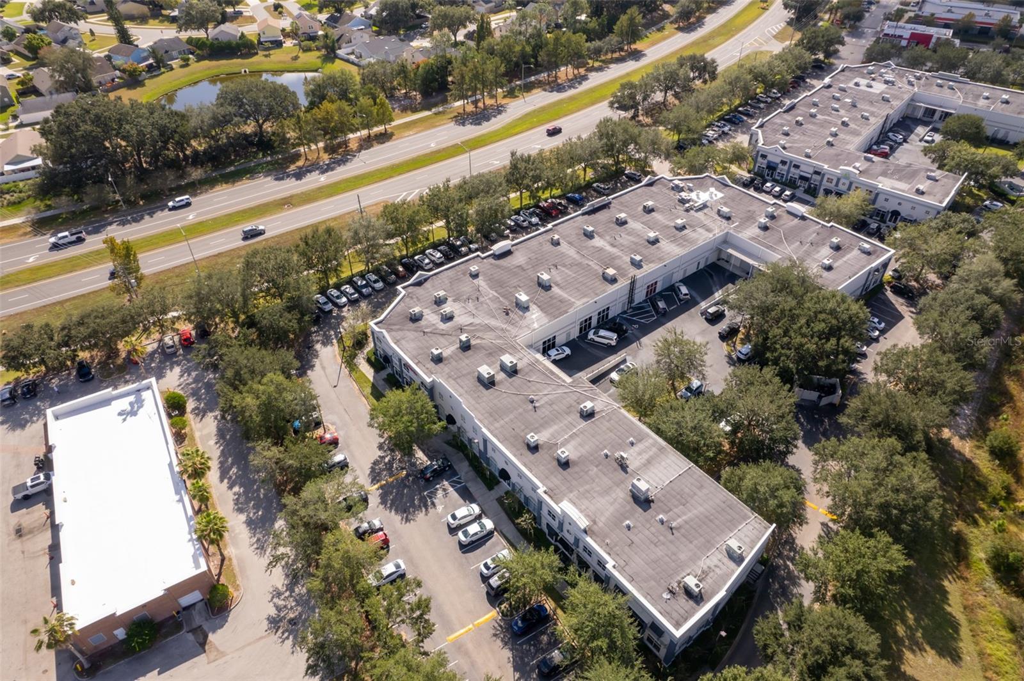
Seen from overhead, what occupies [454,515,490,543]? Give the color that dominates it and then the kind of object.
white car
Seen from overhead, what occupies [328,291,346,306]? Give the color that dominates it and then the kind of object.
gray car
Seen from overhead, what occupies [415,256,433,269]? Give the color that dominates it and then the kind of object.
gray vehicle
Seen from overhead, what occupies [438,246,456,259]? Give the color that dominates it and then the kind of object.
black vehicle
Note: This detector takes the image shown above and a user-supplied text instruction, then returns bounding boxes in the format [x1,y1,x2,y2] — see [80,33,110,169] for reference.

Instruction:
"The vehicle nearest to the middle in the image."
[544,346,571,363]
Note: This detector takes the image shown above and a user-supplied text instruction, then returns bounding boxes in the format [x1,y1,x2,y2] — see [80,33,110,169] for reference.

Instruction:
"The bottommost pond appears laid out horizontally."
[160,71,324,114]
